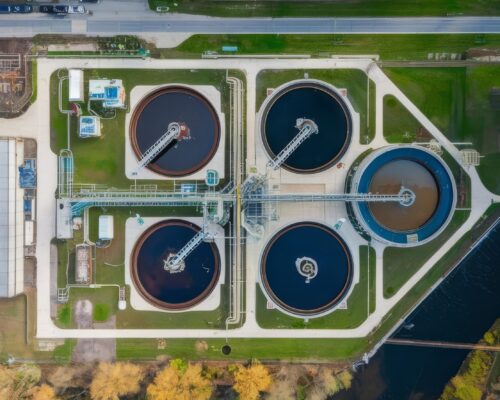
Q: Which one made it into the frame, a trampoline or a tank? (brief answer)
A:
tank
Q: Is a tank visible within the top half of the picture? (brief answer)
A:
Yes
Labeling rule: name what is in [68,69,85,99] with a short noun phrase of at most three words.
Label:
shed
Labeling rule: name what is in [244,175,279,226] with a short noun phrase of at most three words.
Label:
building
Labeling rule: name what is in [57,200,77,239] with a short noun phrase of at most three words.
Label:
house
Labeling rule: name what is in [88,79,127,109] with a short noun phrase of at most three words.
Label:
building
